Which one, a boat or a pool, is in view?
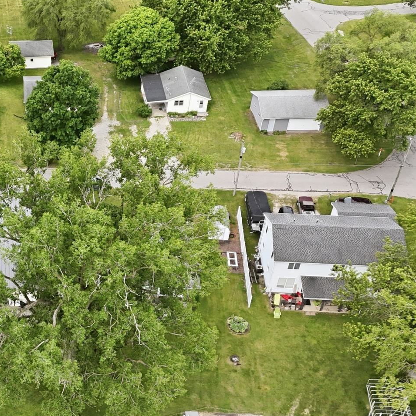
boat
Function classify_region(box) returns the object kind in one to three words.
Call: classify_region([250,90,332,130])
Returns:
building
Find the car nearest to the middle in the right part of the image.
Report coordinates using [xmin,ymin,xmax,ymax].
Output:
[277,197,296,212]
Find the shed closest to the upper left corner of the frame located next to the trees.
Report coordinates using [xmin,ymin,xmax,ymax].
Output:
[7,36,53,68]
